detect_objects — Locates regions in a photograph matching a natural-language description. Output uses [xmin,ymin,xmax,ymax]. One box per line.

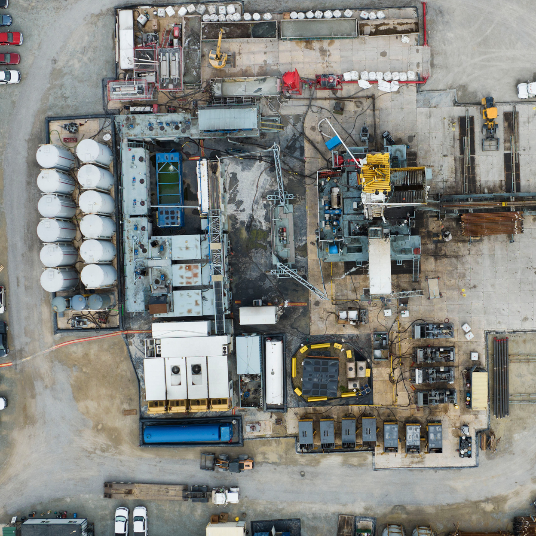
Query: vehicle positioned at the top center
[208,26,236,68]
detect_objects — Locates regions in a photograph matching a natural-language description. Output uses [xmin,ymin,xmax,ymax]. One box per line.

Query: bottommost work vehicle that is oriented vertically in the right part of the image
[479,95,499,151]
